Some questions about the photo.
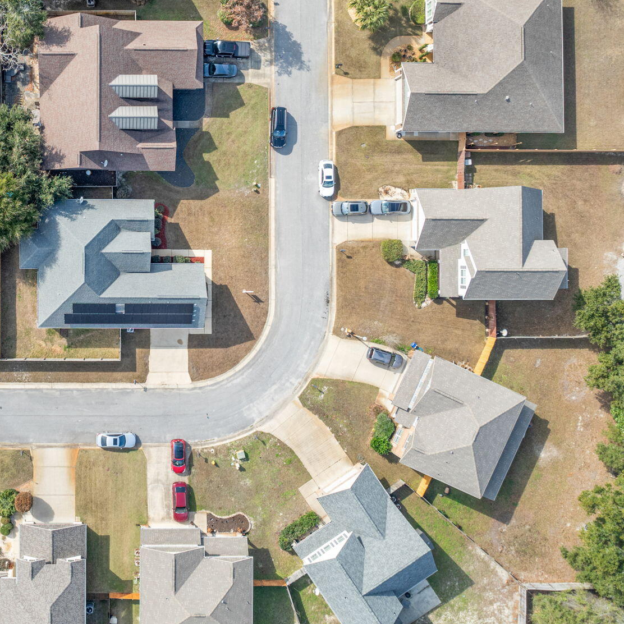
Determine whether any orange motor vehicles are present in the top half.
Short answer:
No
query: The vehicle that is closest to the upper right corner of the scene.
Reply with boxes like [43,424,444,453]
[368,199,411,217]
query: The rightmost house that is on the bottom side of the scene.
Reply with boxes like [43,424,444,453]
[387,349,538,501]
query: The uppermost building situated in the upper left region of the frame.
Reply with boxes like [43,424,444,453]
[37,12,203,172]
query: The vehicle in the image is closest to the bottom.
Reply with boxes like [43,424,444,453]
[171,480,190,521]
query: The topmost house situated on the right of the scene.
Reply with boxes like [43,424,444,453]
[396,0,565,134]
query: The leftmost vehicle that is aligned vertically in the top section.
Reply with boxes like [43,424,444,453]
[268,107,288,149]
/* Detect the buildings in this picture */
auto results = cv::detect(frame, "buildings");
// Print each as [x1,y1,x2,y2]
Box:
[293,462,438,624]
[396,0,565,134]
[19,199,208,329]
[140,523,254,624]
[0,516,86,624]
[37,12,203,172]
[409,185,568,301]
[387,349,538,501]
